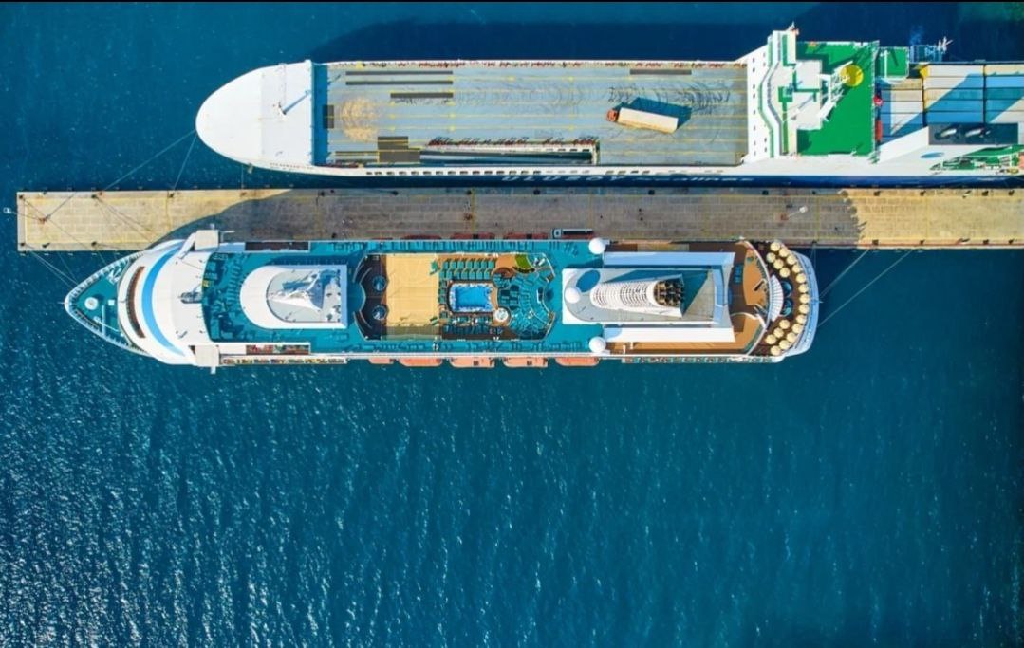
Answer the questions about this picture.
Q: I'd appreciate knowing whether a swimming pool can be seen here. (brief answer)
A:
Yes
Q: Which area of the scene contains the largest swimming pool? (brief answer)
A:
center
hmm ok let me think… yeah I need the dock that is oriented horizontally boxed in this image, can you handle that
[17,187,1024,254]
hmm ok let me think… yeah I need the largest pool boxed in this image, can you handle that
[446,281,494,315]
